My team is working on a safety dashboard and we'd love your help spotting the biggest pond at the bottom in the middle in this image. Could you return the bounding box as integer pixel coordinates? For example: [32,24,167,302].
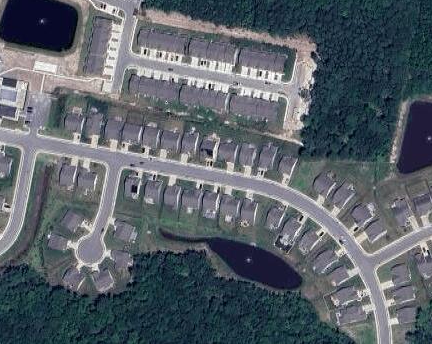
[161,233,302,290]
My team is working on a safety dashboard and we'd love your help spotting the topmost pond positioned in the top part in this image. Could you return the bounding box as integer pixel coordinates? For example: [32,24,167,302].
[0,0,78,51]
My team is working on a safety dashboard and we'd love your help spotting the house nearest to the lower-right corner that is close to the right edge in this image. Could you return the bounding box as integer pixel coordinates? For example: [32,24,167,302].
[398,304,421,322]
